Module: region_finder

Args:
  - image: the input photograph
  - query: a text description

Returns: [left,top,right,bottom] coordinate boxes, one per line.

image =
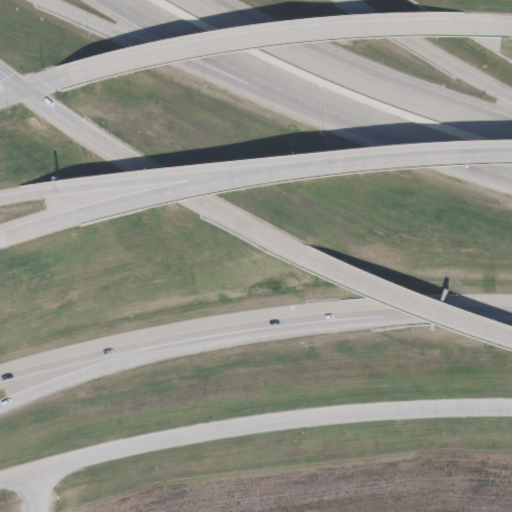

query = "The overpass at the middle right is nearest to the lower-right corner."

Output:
[307,250,512,350]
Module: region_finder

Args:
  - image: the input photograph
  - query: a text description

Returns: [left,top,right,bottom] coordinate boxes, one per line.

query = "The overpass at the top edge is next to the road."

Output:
[58,12,470,90]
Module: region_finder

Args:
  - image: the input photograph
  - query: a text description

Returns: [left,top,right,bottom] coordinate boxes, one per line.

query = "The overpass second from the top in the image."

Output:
[22,140,512,226]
